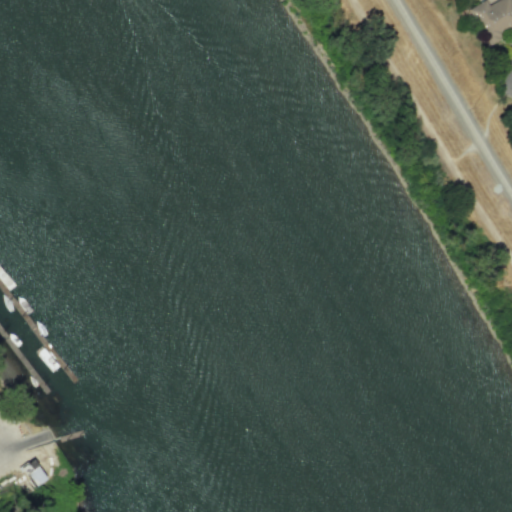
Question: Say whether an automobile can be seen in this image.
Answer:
No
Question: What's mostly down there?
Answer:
water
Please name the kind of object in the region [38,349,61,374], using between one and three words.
boat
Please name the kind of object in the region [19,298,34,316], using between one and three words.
boat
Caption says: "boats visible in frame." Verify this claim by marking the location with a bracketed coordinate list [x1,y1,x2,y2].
[0,264,16,290]
[19,298,34,316]
[30,376,40,389]
[38,349,61,374]
[4,295,15,314]
[10,332,24,349]
[38,321,49,339]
